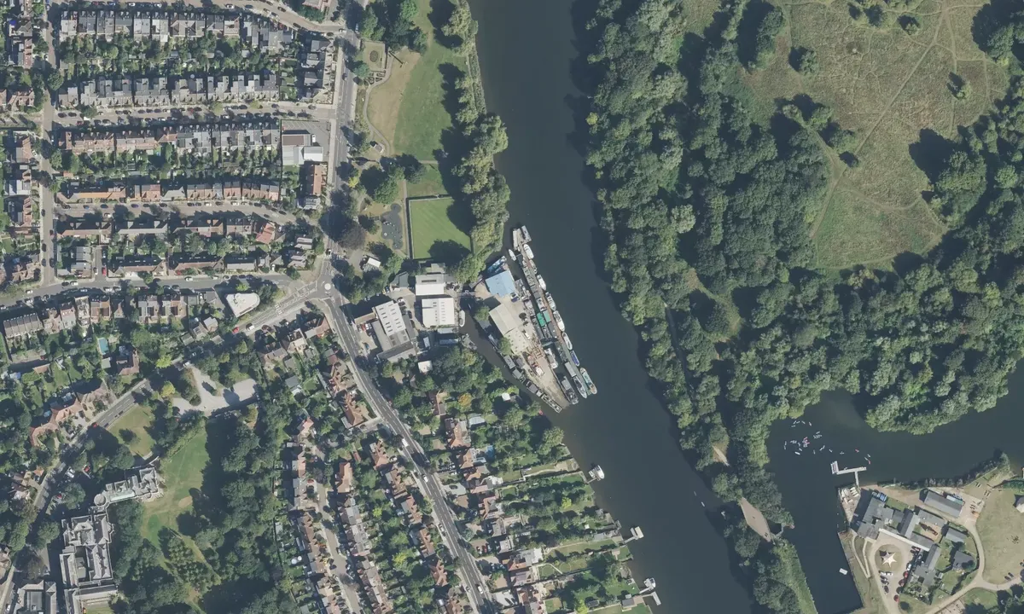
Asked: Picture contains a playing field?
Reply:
Yes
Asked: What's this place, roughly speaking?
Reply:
residential area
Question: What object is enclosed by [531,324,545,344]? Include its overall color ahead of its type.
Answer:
gray boat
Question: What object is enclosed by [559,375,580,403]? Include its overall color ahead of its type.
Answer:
gray boat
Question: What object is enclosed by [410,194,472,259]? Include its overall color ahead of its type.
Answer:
green sports field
